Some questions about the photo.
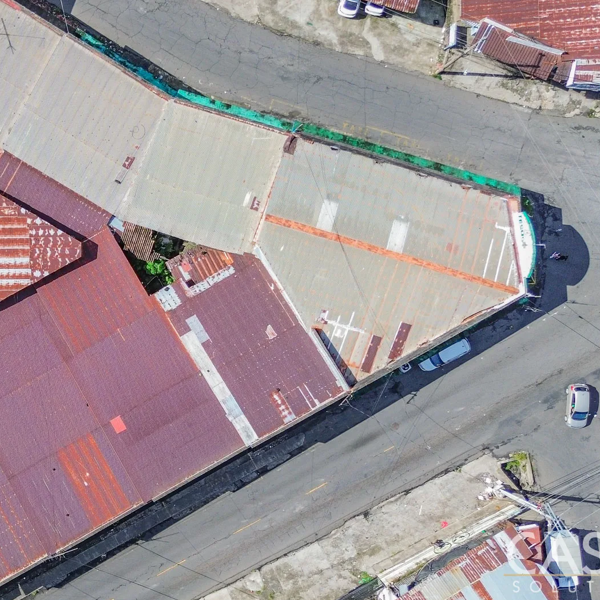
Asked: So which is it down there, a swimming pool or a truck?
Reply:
truck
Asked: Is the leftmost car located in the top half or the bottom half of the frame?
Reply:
top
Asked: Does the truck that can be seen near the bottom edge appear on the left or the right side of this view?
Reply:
right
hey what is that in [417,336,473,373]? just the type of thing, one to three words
car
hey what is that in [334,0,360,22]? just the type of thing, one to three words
car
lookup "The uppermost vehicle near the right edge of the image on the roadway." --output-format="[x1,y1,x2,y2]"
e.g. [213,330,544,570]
[563,382,592,429]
